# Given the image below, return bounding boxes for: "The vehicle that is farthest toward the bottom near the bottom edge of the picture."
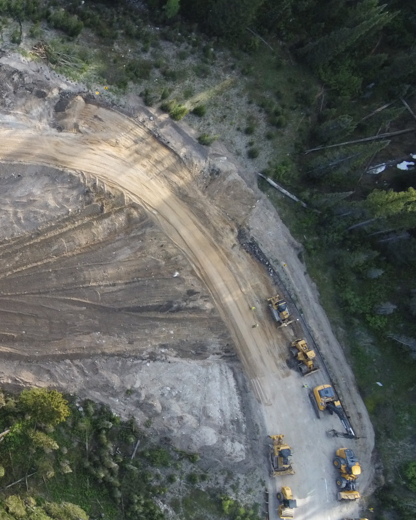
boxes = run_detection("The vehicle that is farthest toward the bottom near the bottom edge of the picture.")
[276,487,298,520]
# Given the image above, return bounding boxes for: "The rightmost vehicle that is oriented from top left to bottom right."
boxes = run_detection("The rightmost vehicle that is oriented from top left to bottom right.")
[305,377,359,432]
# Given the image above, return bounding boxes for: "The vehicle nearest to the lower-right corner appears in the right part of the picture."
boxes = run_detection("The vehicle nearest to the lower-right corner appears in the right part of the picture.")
[331,449,359,501]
